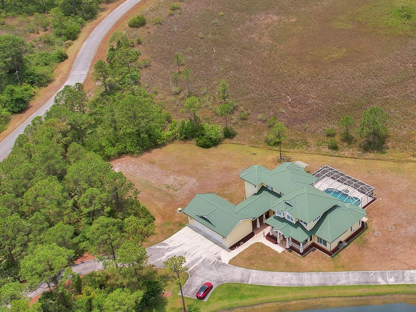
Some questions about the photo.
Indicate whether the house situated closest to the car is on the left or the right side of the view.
right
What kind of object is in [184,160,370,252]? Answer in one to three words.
house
